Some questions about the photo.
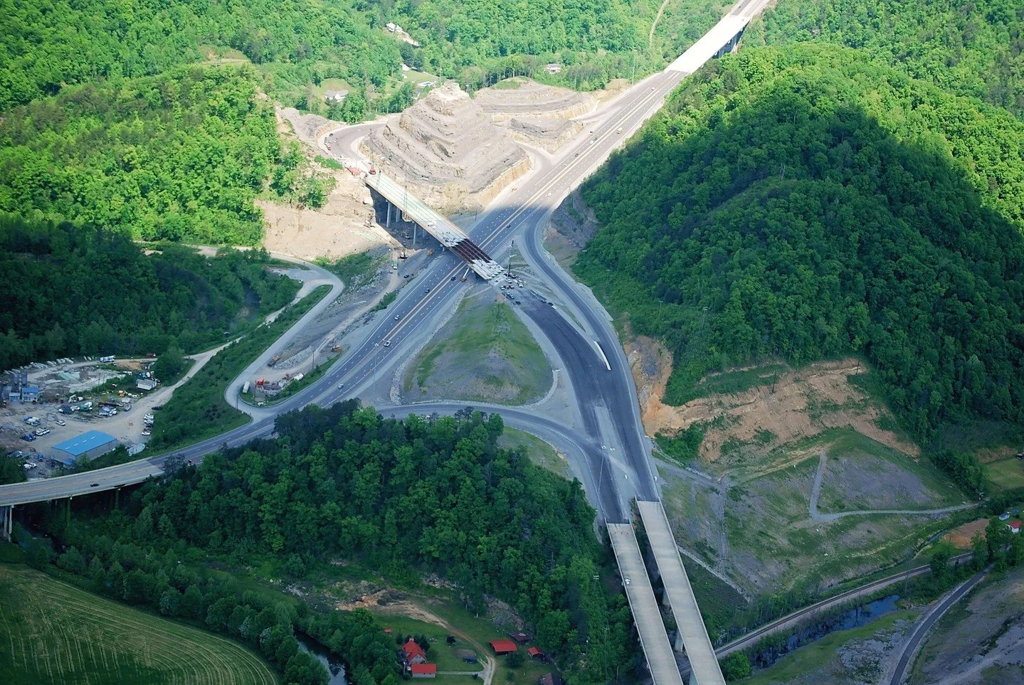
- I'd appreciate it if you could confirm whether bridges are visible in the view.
Yes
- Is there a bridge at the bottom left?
Yes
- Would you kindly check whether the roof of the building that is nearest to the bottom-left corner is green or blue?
blue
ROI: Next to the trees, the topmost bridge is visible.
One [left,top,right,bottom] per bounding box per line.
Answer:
[666,13,751,74]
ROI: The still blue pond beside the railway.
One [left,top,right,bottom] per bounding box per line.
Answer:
[725,593,902,685]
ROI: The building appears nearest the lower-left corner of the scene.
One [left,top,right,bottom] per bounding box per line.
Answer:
[56,427,114,464]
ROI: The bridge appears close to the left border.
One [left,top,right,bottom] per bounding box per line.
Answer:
[0,455,166,541]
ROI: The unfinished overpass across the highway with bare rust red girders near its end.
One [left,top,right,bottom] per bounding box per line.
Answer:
[365,170,505,280]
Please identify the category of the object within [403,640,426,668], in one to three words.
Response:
house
